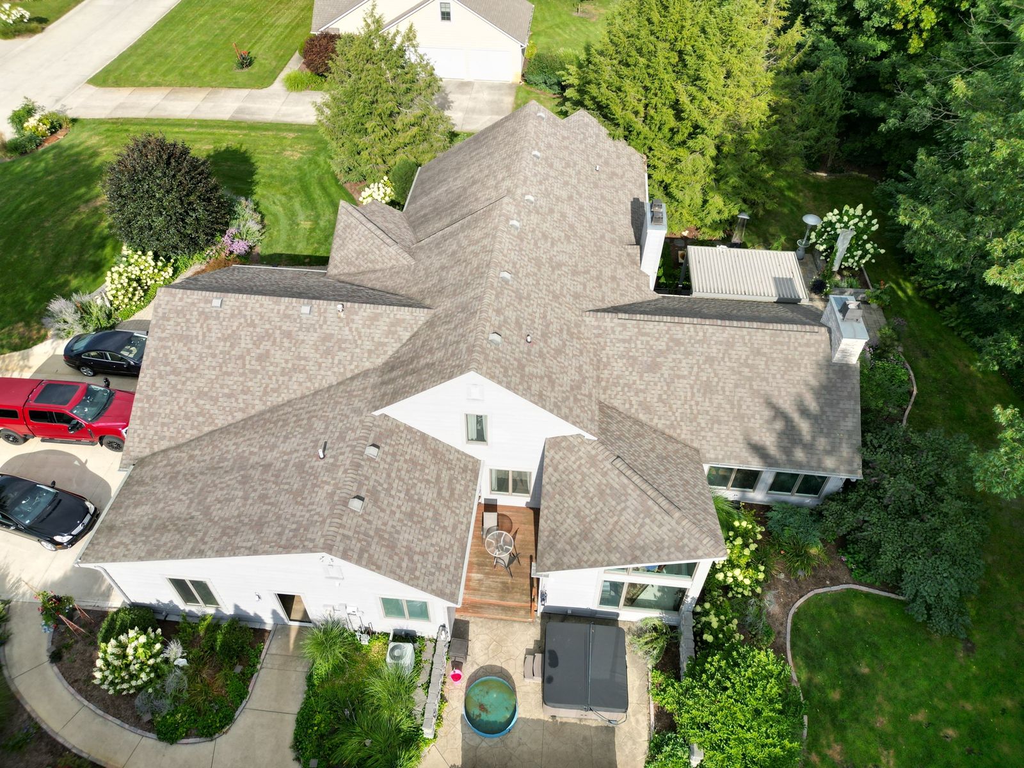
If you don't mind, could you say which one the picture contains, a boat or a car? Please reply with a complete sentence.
Looking from above, you can make out a car.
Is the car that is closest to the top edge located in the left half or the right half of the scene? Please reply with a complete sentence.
The car that is closest to the top edge appears in the left half of the scene.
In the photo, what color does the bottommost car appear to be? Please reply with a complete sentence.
From above, the bottommost car appears black.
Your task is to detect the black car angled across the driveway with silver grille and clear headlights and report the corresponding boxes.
[0,479,100,553]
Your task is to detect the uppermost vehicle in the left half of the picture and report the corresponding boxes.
[59,332,149,378]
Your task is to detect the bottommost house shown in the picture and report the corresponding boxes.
[71,100,871,645]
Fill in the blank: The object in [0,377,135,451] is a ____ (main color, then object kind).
red truck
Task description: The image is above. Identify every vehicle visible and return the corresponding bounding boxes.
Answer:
[0,479,100,553]
[59,332,149,378]
[0,377,135,451]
